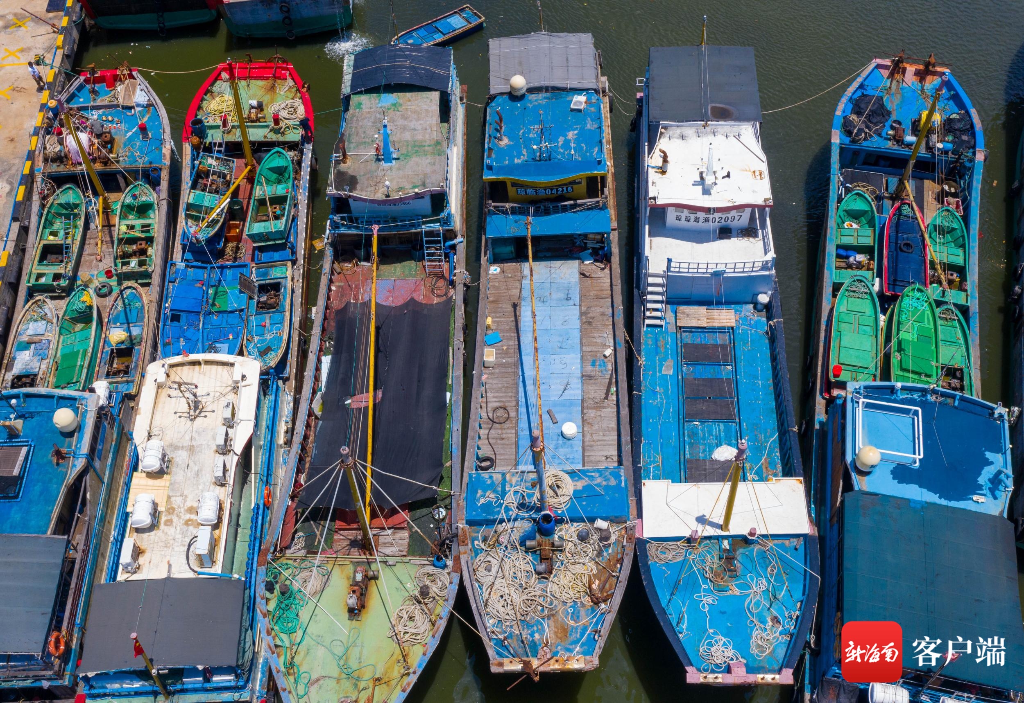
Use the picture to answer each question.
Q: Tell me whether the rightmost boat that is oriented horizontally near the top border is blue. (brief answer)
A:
Yes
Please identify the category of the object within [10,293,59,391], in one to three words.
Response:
boat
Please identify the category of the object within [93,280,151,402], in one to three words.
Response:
boat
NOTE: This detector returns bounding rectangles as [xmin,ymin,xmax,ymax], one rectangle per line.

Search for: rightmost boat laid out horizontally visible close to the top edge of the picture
[392,6,483,43]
